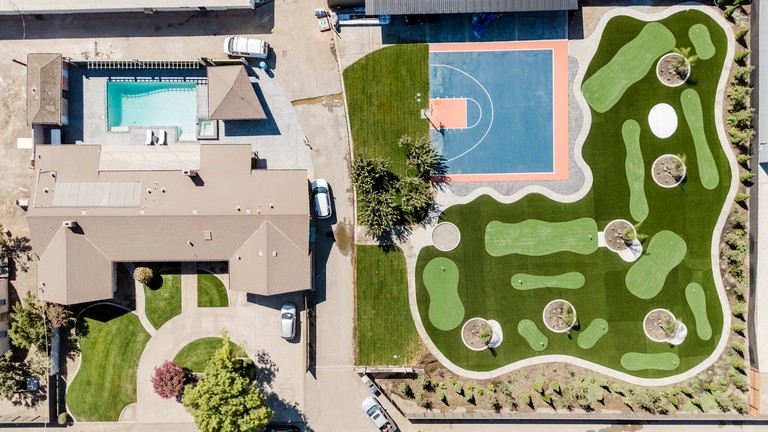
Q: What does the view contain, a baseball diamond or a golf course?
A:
golf course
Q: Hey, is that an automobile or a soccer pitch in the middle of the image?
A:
automobile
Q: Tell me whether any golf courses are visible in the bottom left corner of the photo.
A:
No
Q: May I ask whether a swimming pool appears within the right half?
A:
No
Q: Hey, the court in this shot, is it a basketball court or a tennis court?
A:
basketball court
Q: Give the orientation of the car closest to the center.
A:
up and down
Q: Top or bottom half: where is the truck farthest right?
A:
bottom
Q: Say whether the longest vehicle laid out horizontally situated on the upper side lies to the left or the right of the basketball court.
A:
left of it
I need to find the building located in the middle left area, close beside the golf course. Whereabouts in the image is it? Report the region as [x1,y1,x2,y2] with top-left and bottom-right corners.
[28,144,313,304]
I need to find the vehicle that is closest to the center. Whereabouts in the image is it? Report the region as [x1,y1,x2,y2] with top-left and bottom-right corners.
[311,178,332,219]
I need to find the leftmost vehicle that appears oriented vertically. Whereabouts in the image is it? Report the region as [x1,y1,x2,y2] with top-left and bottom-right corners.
[280,302,298,338]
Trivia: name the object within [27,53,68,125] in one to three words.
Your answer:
building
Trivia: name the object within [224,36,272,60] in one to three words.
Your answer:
vehicle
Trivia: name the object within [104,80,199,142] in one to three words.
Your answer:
swimming pool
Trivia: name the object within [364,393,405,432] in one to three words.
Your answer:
truck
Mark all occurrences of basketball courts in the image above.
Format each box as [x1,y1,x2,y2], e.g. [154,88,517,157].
[429,40,568,182]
